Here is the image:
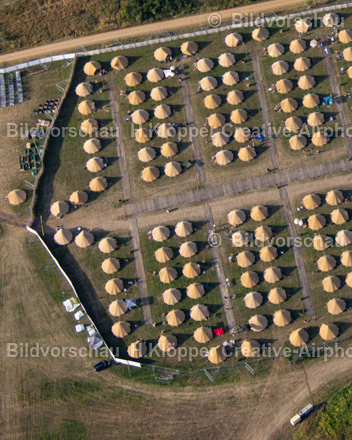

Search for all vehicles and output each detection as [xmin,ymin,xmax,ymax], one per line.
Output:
[92,358,112,371]
[289,402,315,425]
